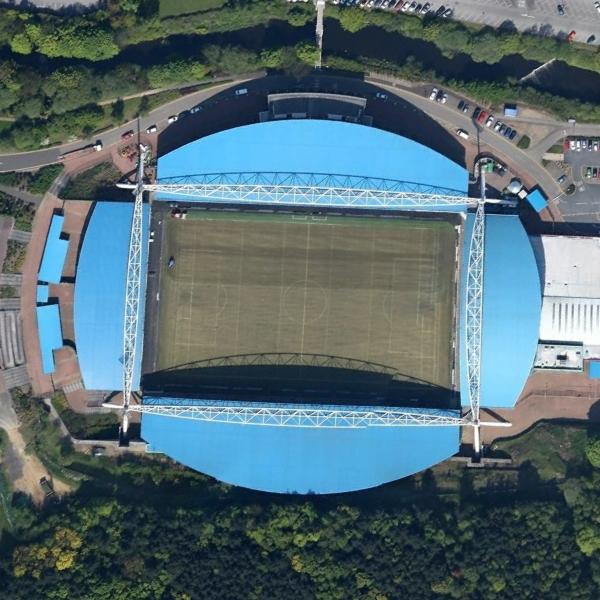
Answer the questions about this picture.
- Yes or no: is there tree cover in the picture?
Yes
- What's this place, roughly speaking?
sports ground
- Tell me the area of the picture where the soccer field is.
center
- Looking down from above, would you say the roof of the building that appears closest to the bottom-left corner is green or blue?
blue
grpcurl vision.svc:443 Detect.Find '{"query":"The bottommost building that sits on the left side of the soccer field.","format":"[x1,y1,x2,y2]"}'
[36,304,63,374]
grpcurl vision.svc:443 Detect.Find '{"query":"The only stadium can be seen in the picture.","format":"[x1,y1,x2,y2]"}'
[73,119,543,495]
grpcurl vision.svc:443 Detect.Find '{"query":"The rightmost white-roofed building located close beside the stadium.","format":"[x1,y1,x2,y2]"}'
[533,235,600,371]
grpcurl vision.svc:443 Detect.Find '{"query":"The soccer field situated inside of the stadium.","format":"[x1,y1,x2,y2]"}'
[156,207,454,401]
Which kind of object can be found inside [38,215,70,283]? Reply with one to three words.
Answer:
building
